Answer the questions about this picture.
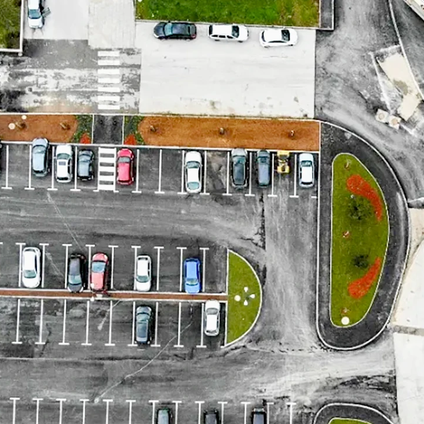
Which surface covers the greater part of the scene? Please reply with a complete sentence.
The bulk of the photo consists of paved ground.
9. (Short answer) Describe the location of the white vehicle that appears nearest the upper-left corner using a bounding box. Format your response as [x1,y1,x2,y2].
[24,0,51,31]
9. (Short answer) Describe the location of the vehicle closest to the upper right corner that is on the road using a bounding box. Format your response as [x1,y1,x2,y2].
[258,27,298,48]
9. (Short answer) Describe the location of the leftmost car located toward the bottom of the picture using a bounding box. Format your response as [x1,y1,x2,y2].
[18,245,42,288]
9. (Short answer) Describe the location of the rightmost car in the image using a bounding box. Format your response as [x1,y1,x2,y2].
[297,152,316,189]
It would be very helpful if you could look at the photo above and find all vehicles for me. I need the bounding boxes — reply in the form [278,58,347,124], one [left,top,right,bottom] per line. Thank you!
[115,148,136,187]
[132,254,152,293]
[277,151,290,172]
[64,252,85,294]
[206,22,249,43]
[183,150,203,194]
[53,144,74,184]
[75,148,94,183]
[202,299,222,338]
[133,304,153,346]
[182,256,201,295]
[156,407,174,424]
[88,252,110,293]
[229,148,249,191]
[297,152,316,189]
[254,149,272,189]
[250,407,266,424]
[153,20,197,42]
[18,245,42,288]
[24,0,51,31]
[29,137,50,178]
[258,27,298,48]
